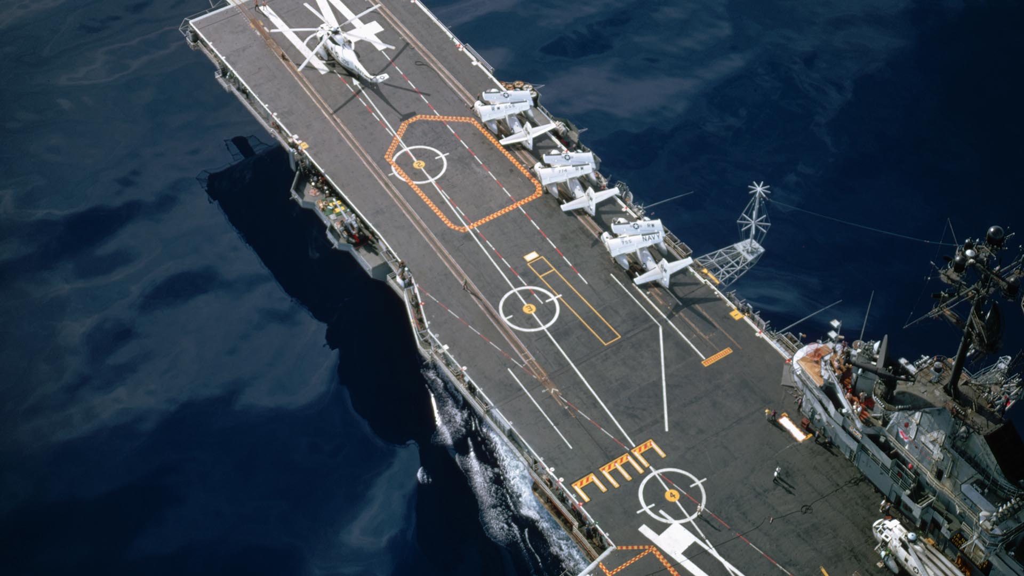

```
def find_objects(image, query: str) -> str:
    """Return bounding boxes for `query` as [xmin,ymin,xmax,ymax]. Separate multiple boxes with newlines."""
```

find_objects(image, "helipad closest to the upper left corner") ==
[388,146,450,184]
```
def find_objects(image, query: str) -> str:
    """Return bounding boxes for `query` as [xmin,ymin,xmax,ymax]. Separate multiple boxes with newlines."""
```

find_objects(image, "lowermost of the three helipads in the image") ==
[637,468,707,524]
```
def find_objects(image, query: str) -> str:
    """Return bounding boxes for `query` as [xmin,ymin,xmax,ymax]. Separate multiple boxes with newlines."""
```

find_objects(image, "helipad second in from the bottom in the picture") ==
[499,286,562,331]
